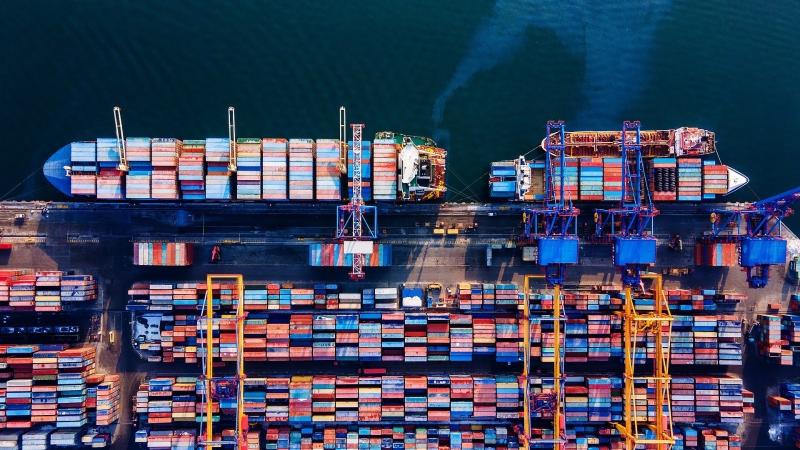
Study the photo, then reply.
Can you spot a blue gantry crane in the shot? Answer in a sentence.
Yes, the picture does show a blue gantry crane.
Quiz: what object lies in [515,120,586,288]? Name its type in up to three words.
container crane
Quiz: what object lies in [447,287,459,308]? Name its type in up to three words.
vehicle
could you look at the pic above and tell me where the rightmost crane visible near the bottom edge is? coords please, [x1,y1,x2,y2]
[610,277,674,450]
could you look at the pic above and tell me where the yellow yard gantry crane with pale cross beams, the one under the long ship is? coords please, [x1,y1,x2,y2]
[196,277,253,450]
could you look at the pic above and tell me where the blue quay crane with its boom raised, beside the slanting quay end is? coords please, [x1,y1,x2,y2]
[688,180,800,288]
